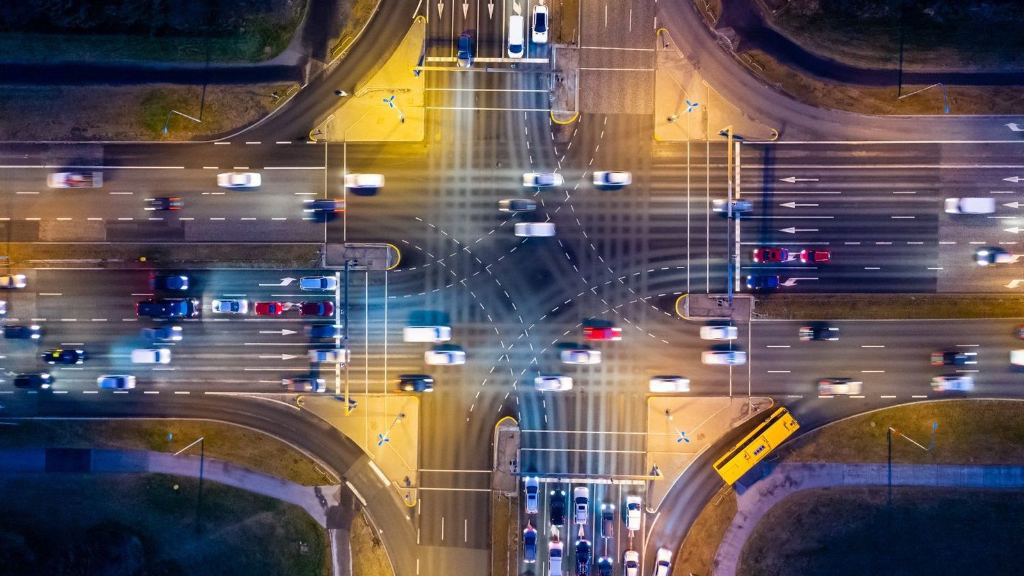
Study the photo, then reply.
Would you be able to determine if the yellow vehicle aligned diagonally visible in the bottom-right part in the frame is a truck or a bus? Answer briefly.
bus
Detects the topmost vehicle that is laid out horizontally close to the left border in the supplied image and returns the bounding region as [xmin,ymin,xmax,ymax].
[50,170,102,189]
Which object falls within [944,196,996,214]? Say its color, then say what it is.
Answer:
white vehicle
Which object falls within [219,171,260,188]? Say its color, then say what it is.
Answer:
white car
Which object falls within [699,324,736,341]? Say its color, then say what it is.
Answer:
white car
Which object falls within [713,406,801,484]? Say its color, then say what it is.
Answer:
yellow bus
